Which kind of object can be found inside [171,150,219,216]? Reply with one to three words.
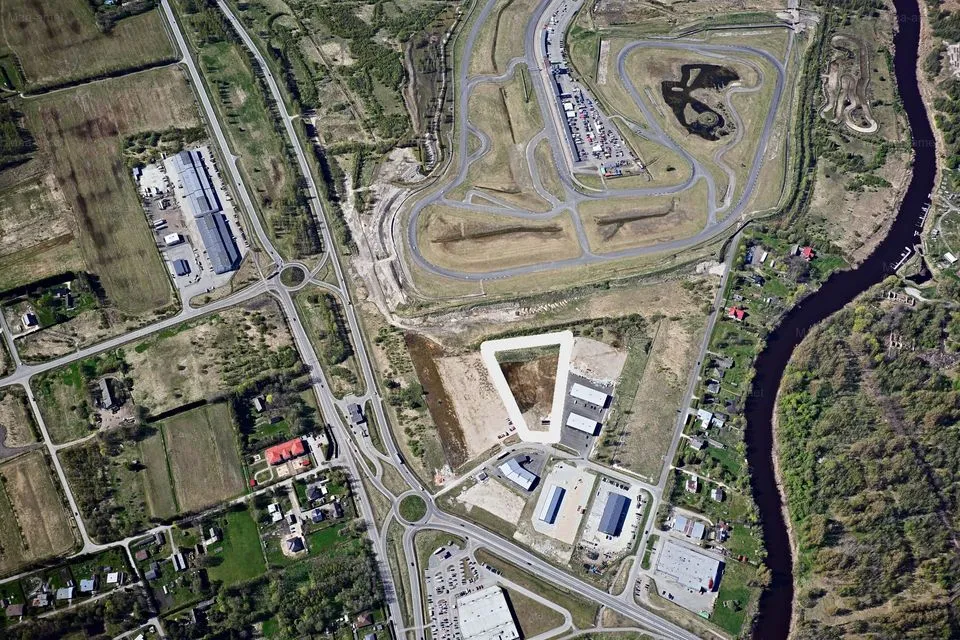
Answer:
building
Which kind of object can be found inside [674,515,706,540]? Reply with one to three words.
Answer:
shed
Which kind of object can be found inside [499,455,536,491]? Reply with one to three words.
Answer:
building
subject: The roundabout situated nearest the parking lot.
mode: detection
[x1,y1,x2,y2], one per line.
[391,486,434,529]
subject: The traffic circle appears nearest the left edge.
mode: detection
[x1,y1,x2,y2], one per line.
[274,260,311,293]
